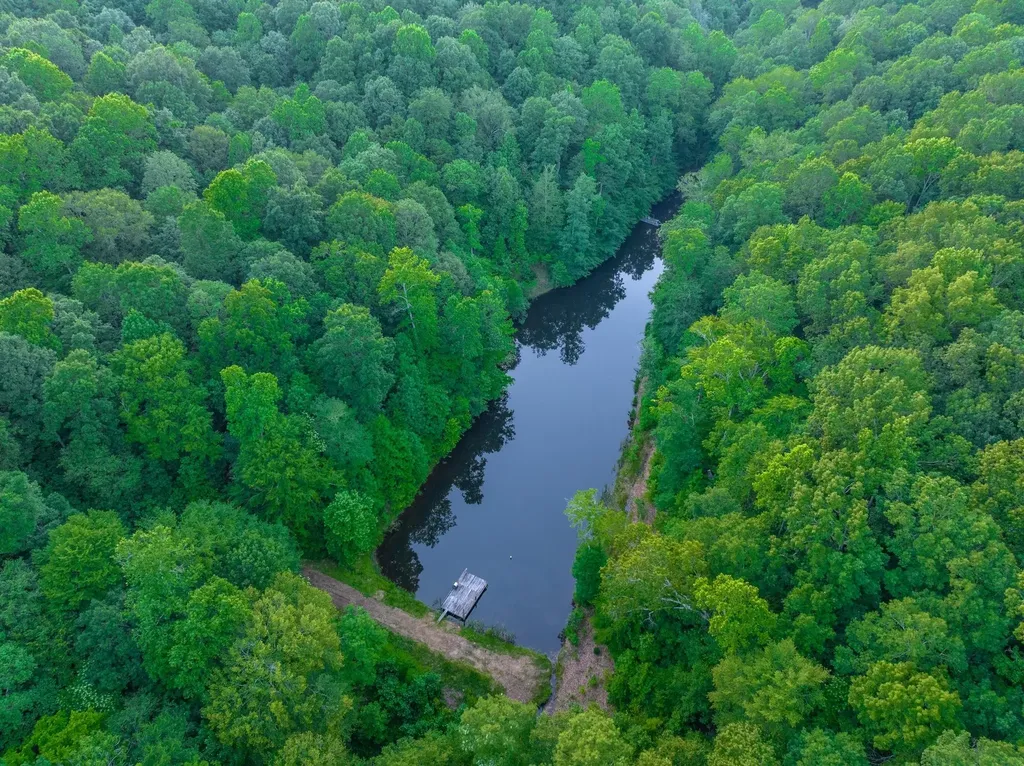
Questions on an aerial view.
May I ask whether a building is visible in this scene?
No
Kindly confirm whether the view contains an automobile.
No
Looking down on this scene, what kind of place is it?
forest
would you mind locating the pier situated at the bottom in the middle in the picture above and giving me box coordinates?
[434,570,485,621]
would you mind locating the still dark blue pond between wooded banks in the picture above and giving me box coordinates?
[378,154,711,660]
